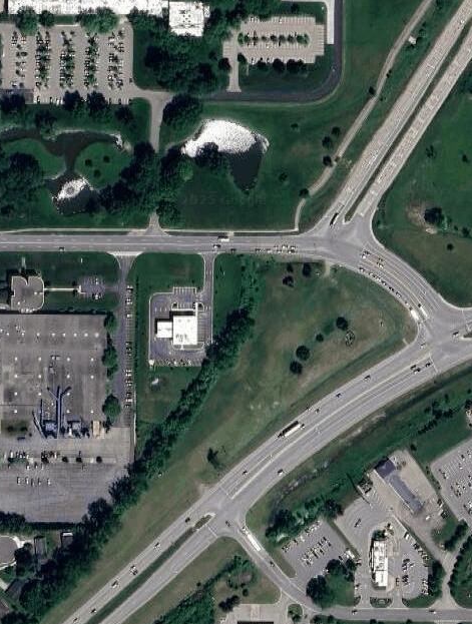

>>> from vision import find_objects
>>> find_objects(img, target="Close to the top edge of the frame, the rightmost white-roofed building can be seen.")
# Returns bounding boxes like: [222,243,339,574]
[169,2,210,37]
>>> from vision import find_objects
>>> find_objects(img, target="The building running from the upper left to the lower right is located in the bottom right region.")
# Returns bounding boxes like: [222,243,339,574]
[375,459,423,523]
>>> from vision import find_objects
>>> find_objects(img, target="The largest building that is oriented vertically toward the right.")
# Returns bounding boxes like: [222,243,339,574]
[372,541,388,587]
